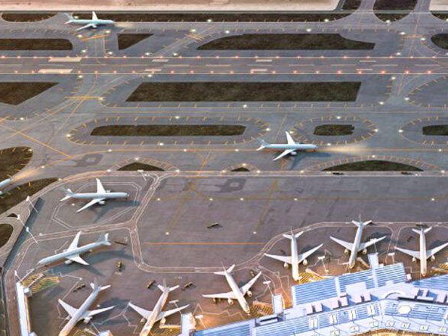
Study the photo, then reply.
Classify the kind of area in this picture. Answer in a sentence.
It's an airport.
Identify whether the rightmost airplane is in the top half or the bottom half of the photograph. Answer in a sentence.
The rightmost airplane is in the bottom half of the image.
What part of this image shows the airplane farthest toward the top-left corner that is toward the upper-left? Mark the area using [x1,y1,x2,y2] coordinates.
[61,11,115,30]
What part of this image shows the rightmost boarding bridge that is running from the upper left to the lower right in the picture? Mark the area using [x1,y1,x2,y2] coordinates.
[356,254,370,270]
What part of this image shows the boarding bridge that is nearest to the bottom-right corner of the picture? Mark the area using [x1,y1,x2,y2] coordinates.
[433,260,448,273]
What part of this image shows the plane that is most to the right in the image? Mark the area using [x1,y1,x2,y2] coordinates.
[389,224,448,276]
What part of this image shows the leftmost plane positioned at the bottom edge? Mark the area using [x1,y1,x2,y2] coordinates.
[56,279,118,336]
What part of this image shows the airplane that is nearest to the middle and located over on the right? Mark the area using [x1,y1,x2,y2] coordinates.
[255,131,318,160]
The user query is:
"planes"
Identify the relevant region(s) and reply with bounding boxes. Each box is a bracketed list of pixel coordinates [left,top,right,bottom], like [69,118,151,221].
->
[389,224,448,276]
[61,11,115,30]
[324,217,391,267]
[39,230,112,266]
[126,279,191,336]
[56,279,118,336]
[258,230,329,280]
[58,179,129,212]
[197,261,267,312]
[255,131,318,160]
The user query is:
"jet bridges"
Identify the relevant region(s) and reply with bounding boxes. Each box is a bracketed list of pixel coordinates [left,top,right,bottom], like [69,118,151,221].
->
[433,260,448,273]
[21,266,38,287]
[151,321,180,334]
[304,266,338,279]
[26,270,47,297]
[249,299,273,315]
[356,254,370,270]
